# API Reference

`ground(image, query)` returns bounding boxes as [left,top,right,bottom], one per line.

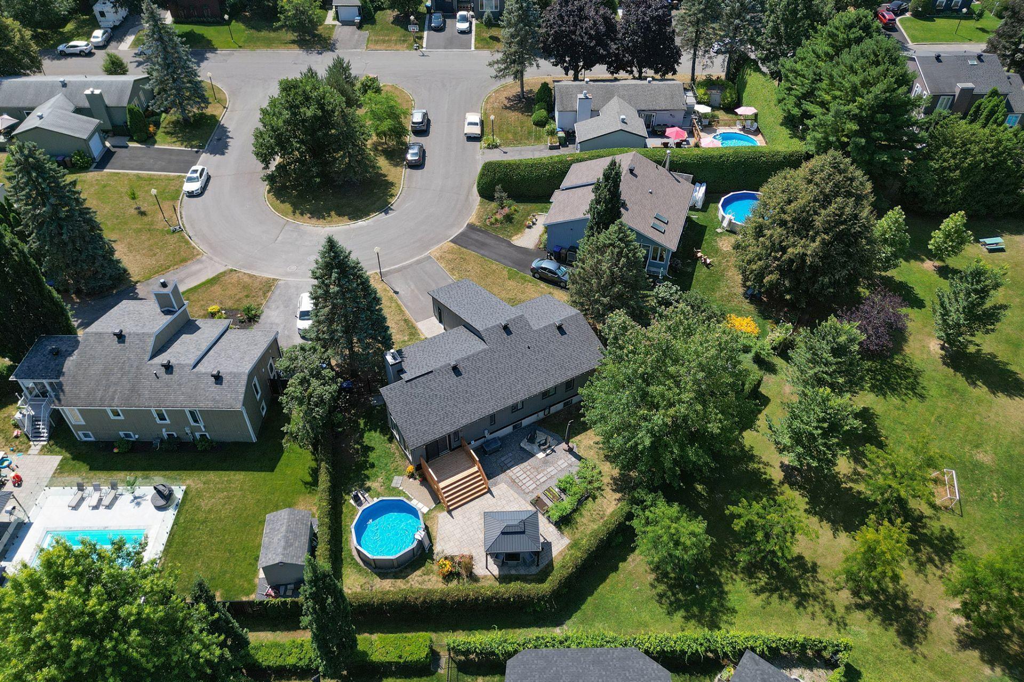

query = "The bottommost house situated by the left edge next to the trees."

[12,284,280,438]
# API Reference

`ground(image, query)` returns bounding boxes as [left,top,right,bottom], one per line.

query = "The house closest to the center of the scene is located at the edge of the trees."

[381,279,612,470]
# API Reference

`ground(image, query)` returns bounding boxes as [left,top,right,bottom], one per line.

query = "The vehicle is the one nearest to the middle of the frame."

[526,256,583,287]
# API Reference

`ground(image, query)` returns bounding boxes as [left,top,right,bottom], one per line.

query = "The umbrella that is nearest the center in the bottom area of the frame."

[561,420,579,457]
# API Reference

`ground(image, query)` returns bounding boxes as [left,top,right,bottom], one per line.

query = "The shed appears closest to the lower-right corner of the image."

[712,651,779,682]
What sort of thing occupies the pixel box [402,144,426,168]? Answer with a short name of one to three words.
car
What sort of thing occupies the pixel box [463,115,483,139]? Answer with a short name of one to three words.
car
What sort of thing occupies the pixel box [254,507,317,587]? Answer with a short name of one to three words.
shed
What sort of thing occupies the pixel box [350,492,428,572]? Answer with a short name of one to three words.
swimming pool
